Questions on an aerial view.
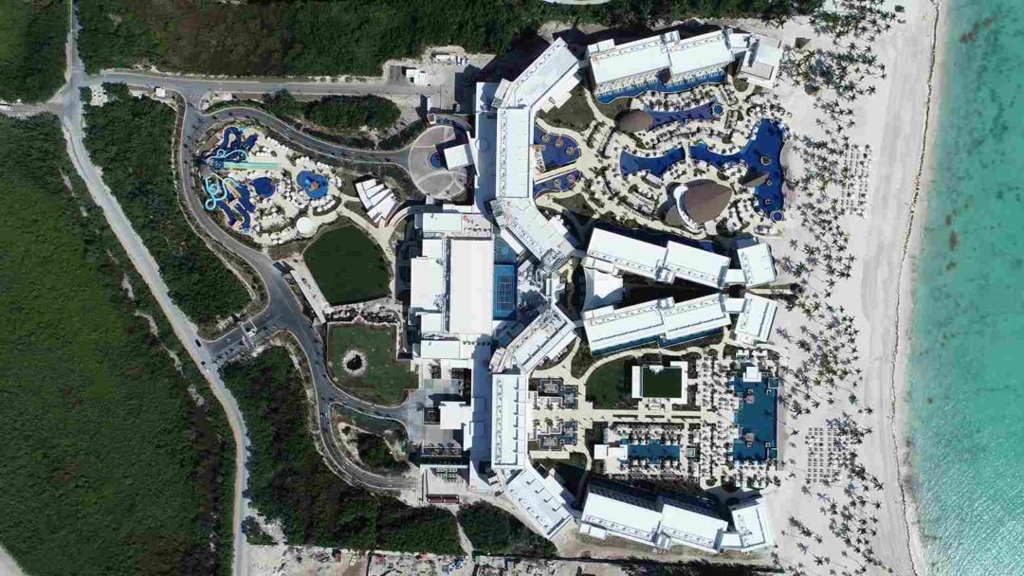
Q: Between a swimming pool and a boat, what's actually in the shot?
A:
swimming pool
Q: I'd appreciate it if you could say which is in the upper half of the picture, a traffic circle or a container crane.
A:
traffic circle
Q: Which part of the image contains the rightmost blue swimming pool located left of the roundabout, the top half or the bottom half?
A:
top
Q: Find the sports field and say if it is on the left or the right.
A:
left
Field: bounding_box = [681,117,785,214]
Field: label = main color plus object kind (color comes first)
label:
blue swimming pool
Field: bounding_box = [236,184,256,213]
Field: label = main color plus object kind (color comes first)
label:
blue swimming pool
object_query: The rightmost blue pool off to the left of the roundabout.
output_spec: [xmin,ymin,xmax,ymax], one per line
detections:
[295,169,329,198]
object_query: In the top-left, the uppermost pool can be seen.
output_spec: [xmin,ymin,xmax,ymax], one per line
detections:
[214,149,250,161]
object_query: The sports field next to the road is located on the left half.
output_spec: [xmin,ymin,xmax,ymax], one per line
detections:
[302,226,391,306]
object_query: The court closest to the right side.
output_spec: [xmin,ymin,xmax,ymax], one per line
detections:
[494,265,518,321]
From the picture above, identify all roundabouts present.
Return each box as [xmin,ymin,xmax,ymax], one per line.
[407,126,478,198]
